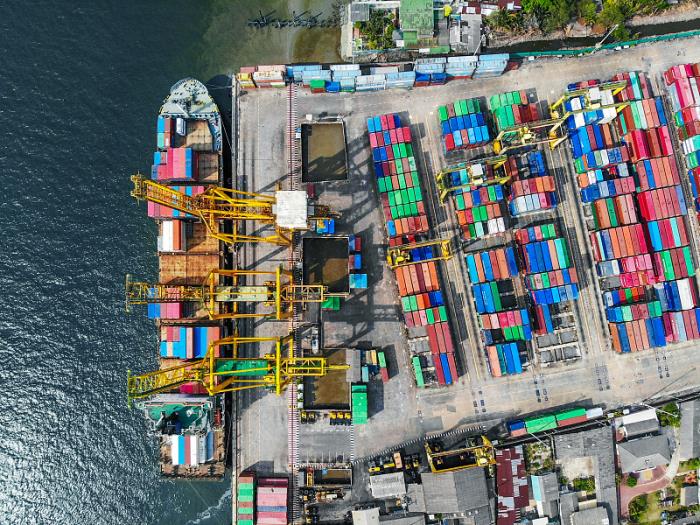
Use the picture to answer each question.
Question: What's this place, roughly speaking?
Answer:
port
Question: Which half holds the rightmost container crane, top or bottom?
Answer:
top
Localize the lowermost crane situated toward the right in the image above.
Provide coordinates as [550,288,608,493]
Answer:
[423,431,498,476]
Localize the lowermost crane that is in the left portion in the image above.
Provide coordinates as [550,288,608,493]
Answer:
[122,329,352,409]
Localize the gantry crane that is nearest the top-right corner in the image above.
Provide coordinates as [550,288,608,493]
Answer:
[546,80,632,131]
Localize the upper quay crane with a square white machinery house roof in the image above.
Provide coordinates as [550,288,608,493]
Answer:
[122,165,348,252]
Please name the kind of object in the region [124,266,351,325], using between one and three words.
container crane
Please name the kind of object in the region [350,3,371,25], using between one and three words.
house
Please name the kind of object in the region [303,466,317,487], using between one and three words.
vehicle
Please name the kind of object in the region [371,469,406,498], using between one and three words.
building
